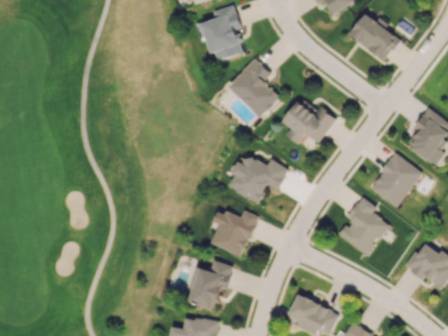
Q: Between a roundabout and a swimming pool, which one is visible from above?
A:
swimming pool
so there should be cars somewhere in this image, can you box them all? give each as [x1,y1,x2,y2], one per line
[381,145,393,154]
[374,154,384,165]
[330,290,338,303]
[240,3,252,10]
[260,51,272,62]
[293,170,305,179]
[418,42,430,55]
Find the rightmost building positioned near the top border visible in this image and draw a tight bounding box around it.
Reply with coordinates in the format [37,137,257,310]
[350,14,400,63]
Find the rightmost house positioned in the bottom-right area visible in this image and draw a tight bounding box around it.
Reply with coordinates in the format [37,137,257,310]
[407,244,448,288]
